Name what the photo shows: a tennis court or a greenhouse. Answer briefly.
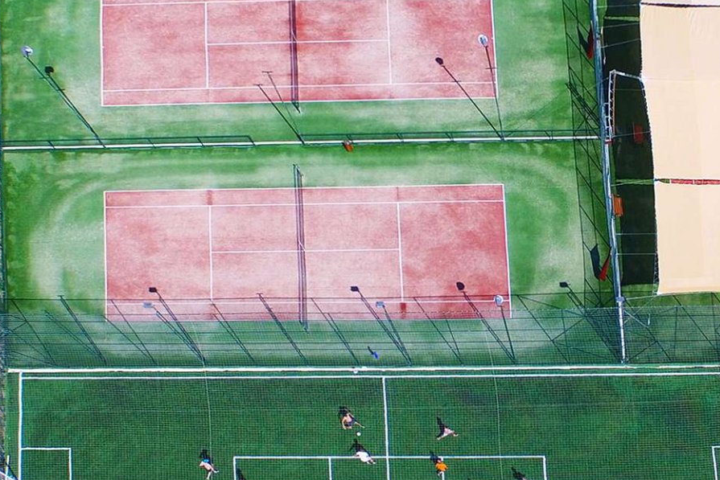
tennis court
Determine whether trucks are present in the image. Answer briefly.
No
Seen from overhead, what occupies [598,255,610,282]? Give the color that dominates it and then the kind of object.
red umbrella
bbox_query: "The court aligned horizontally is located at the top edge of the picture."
[0,0,599,146]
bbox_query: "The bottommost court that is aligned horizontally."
[2,139,618,367]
